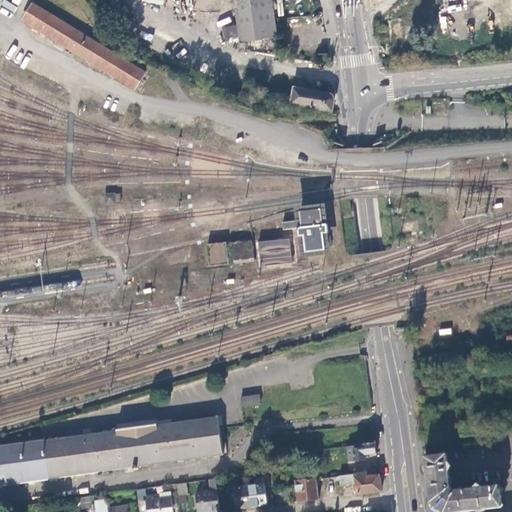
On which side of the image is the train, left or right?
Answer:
left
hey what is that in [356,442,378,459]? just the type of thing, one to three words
house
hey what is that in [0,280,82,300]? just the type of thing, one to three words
train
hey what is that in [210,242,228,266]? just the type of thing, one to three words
building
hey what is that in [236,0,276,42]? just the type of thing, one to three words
building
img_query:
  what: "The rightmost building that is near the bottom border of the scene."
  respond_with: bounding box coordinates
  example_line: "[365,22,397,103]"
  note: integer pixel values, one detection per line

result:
[423,453,503,512]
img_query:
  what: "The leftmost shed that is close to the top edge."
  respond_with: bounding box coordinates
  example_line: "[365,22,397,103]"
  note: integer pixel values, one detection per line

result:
[20,3,146,90]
